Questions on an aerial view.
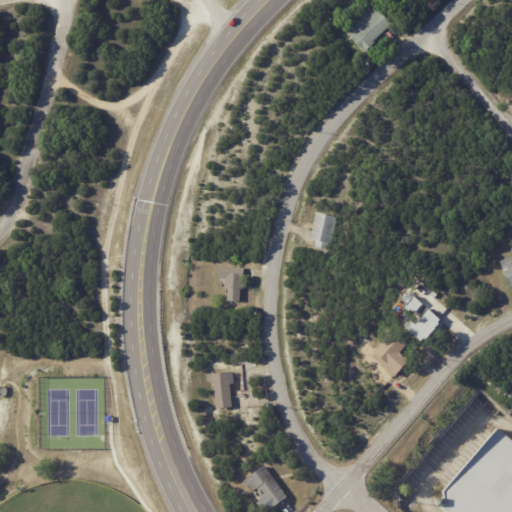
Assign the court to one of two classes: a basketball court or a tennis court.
tennis court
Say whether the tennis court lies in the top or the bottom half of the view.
bottom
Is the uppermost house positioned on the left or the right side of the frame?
right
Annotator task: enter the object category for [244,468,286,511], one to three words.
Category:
house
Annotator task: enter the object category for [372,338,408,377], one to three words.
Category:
house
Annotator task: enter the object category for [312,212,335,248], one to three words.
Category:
barn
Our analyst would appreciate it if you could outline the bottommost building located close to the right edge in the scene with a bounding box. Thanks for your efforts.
[442,430,512,512]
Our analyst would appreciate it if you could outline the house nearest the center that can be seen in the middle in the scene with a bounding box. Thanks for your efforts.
[218,266,244,303]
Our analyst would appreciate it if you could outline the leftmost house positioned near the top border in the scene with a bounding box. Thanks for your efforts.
[347,8,392,49]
